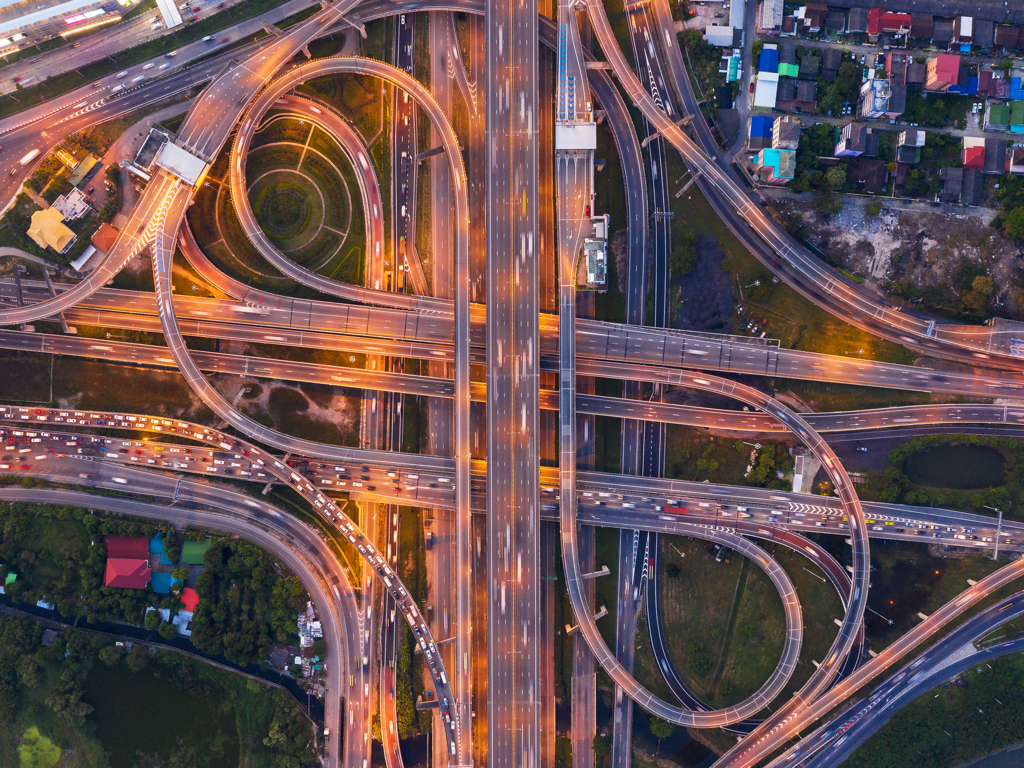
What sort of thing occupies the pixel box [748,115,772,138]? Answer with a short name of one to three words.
house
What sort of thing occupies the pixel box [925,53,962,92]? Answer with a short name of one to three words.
building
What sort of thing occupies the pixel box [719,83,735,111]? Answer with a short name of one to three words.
house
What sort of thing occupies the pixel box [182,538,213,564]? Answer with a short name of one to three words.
barn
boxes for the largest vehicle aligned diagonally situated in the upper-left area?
[18,148,38,163]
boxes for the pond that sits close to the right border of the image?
[903,442,1006,489]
